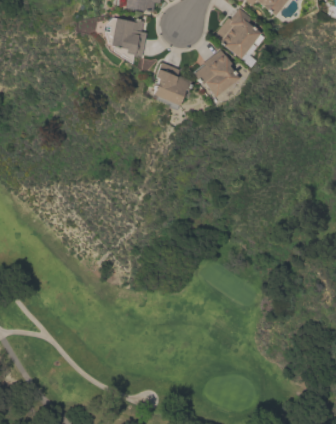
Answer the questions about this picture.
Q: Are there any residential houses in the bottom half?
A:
No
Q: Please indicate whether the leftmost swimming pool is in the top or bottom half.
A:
top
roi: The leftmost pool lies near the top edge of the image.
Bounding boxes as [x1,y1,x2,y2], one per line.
[276,0,302,22]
